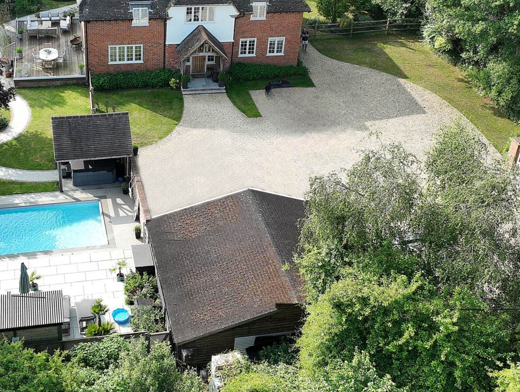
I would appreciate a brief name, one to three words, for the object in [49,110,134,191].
building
